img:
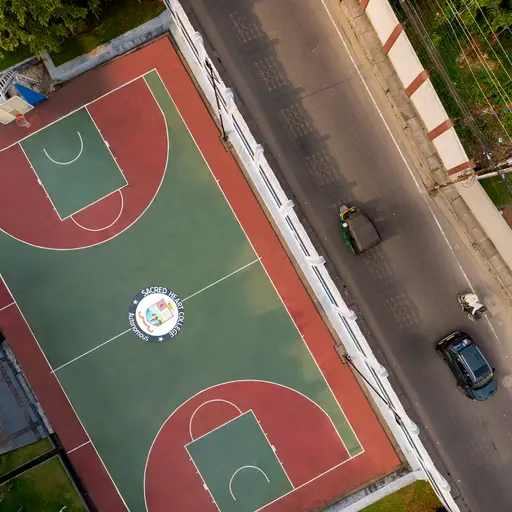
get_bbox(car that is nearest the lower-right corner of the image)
[434,335,494,404]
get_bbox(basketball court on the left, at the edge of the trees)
[0,36,402,512]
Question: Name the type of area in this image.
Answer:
sports ground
